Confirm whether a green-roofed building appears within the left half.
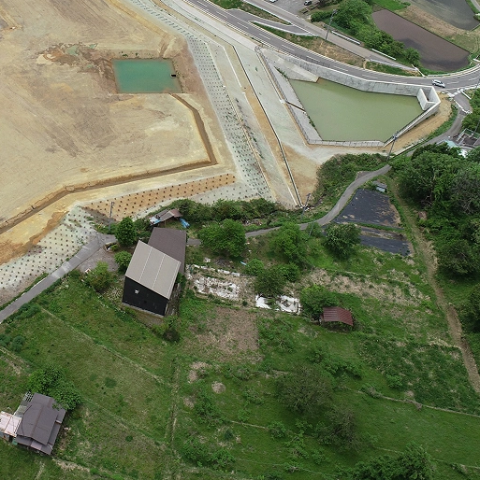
No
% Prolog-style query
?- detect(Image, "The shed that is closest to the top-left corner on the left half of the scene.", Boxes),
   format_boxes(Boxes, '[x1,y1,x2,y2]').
[146,203,181,228]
